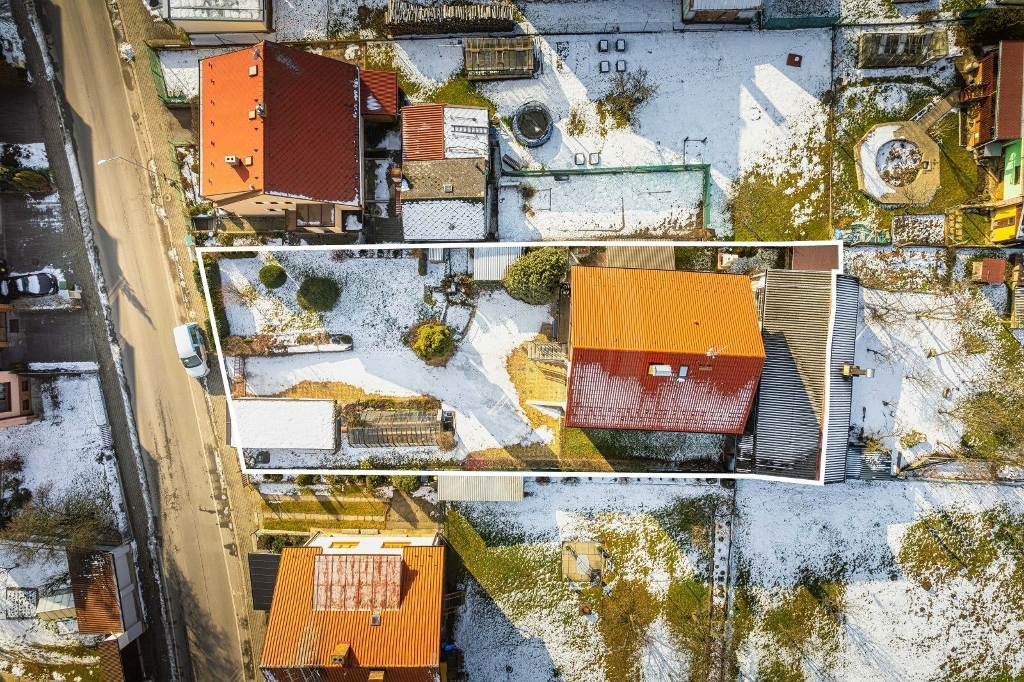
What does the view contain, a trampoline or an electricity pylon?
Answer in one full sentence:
It is a trampoline that can be seen here.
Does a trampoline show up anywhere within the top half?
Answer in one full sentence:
Yes, a trampoline appears within the top half.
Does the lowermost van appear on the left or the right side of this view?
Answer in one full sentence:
The lowermost van sits on the left side.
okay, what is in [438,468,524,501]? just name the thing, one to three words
shed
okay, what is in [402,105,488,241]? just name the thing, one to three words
shed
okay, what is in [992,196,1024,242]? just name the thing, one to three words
house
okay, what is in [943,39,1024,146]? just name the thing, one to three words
house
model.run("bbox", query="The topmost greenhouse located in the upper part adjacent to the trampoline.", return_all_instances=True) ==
[465,38,533,84]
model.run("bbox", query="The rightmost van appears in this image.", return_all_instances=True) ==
[170,321,213,380]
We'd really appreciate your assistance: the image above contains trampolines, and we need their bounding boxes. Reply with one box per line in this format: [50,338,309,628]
[514,96,558,147]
